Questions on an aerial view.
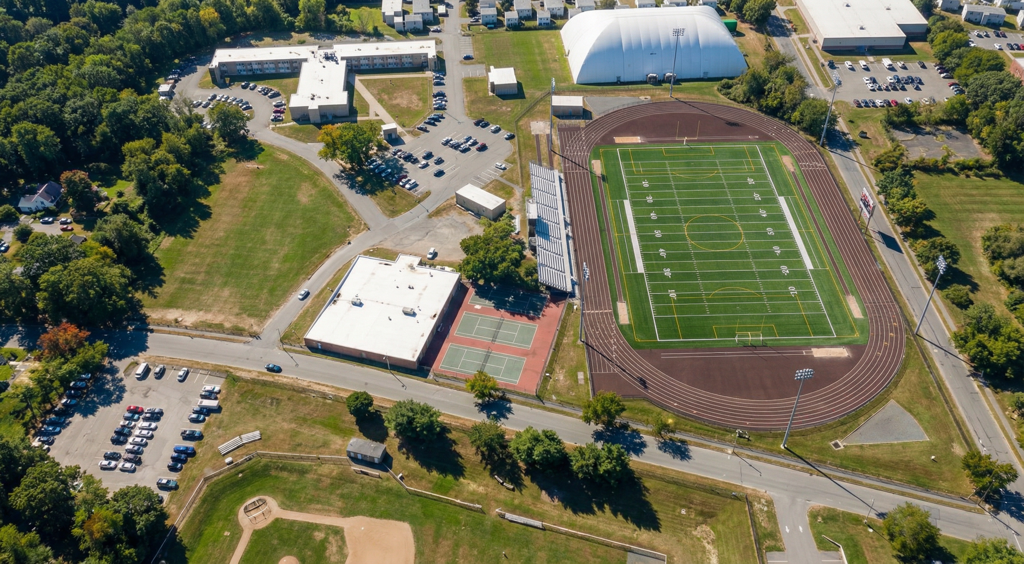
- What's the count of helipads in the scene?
0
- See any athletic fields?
Yes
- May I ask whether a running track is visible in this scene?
Yes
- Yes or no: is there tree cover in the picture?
Yes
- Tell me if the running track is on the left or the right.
right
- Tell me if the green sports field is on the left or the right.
right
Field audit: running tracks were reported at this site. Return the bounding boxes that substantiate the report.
[558,100,906,429]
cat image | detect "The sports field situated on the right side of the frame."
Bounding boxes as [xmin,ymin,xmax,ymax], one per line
[590,142,869,350]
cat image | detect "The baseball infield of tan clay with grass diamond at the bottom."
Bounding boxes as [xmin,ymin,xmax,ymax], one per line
[229,497,414,564]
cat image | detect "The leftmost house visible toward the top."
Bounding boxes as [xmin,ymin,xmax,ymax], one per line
[31,179,59,211]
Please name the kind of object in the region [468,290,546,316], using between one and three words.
tennis court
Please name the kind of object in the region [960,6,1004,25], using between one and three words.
house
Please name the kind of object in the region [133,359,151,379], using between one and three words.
vehicle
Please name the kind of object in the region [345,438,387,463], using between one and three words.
shed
